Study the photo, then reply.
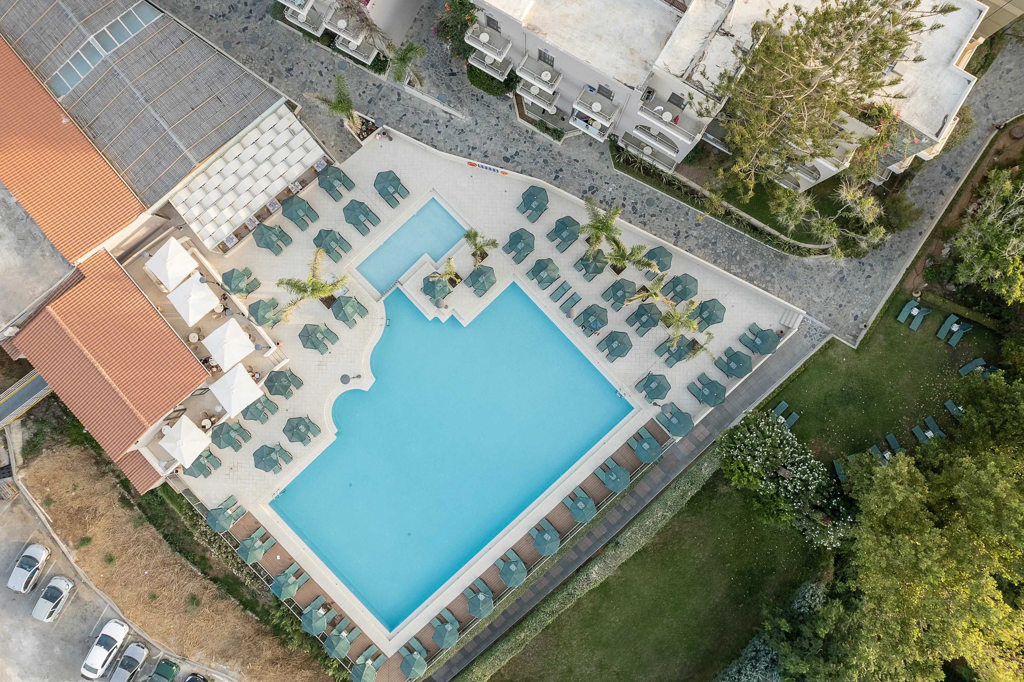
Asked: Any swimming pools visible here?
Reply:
Yes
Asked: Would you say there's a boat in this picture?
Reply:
No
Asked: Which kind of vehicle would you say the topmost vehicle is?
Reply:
automobile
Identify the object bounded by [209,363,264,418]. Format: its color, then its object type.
white umbrella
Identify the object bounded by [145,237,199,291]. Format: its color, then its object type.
white umbrella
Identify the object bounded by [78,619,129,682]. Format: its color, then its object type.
white car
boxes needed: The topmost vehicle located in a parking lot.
[4,542,52,600]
